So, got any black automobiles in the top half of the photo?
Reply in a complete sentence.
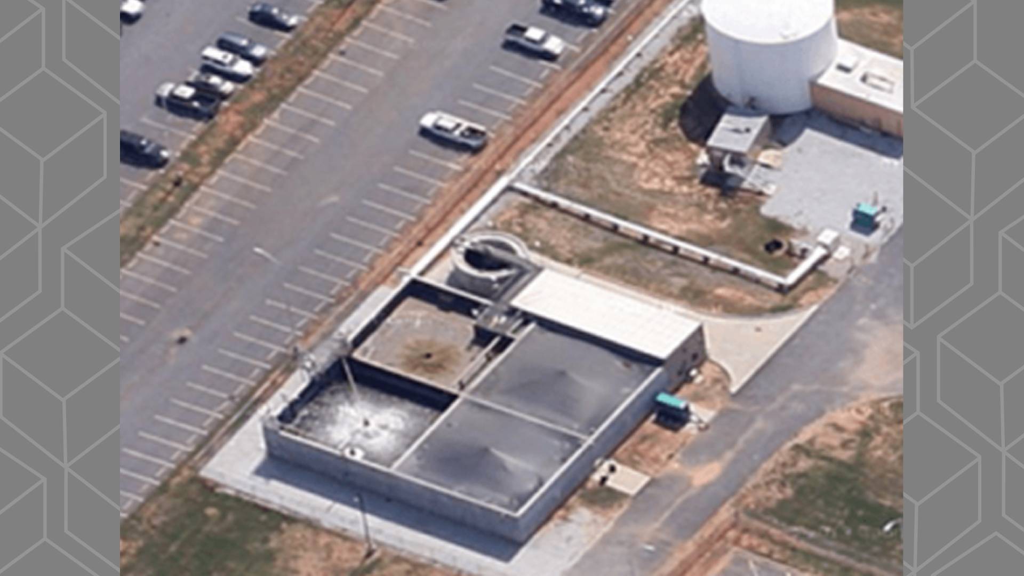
Yes, looking in the top half of the photo, one can make out a black automobile.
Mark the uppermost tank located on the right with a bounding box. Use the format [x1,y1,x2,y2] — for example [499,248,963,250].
[696,0,835,119]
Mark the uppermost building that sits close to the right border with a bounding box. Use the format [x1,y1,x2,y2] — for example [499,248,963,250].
[811,42,1024,179]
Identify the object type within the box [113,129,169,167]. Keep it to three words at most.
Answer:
car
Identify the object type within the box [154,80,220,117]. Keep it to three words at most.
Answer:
truck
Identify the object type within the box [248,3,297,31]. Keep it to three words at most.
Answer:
car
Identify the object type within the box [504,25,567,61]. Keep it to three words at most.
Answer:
truck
